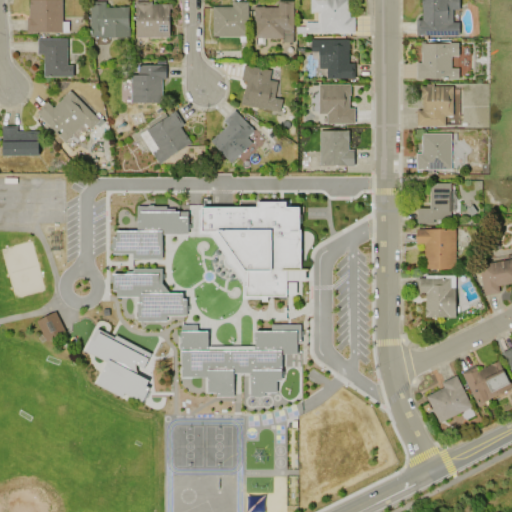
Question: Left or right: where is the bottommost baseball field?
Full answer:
The bottommost baseball field appears in the left half of the scene.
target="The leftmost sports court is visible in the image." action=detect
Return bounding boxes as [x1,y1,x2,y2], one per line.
[2,240,46,298]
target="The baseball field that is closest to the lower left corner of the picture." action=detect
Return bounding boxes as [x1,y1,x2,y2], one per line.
[0,462,75,512]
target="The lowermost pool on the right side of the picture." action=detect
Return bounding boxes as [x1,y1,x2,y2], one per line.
[461,280,479,302]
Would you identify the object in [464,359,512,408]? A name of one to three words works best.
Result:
house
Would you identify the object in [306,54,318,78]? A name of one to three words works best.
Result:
swimming pool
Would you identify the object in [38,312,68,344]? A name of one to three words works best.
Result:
shed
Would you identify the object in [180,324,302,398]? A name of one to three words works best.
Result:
building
